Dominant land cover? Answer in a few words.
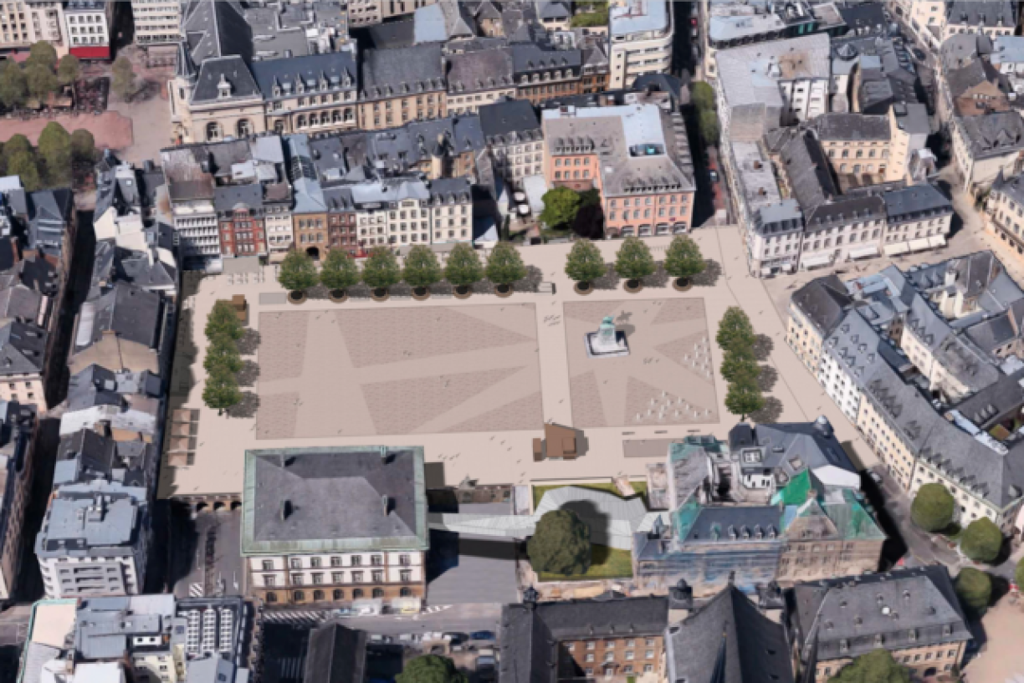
buildings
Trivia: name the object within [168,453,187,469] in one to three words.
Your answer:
umbrella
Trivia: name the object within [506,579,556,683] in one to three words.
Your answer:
building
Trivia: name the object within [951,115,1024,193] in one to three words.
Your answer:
house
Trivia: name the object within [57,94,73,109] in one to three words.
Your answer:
umbrella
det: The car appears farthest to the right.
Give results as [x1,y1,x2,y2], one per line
[1003,578,1018,590]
